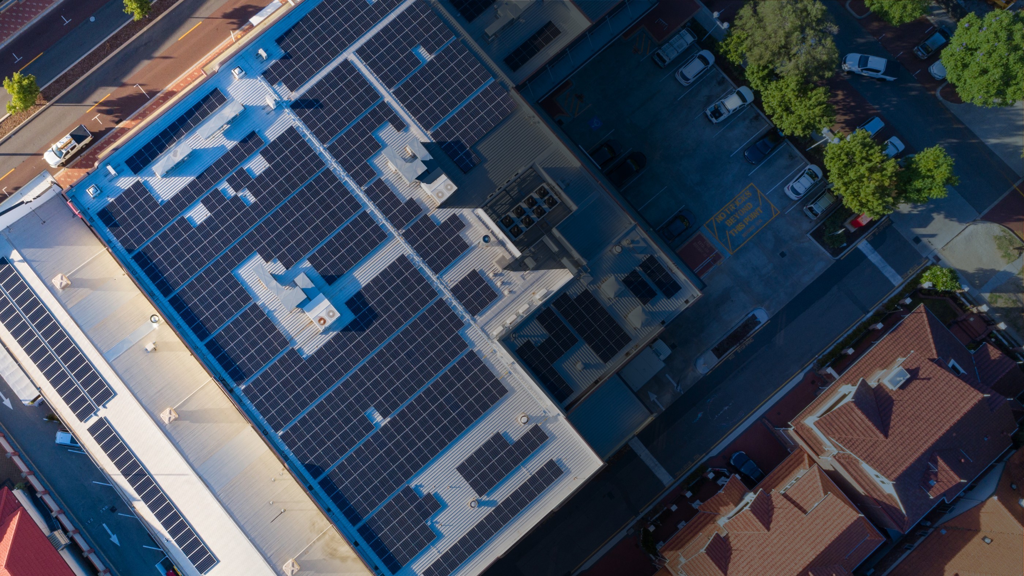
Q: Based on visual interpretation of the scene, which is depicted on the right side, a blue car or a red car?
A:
blue car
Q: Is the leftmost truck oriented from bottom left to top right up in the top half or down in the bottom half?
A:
top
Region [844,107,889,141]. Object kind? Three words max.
car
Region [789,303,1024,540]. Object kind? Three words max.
house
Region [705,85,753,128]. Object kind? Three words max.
truck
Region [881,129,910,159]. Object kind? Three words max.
car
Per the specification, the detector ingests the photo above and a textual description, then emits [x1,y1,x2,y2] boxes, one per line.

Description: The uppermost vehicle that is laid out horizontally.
[841,52,898,83]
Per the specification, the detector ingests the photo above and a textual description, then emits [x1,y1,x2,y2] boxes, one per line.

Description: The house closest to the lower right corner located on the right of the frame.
[893,446,1024,576]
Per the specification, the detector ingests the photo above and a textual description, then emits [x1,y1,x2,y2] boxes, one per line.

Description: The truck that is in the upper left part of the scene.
[45,124,96,169]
